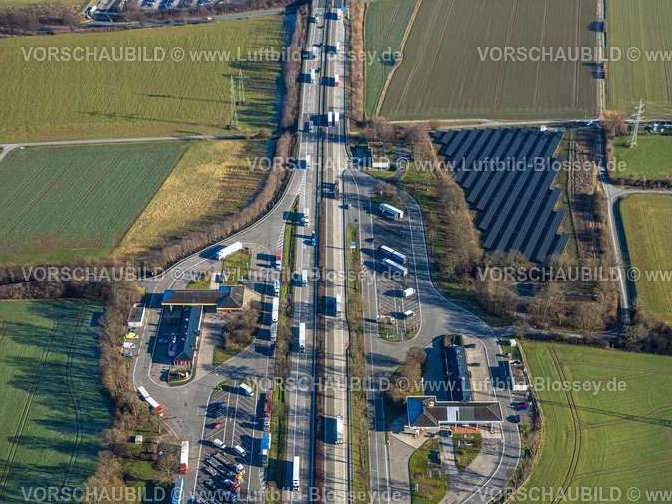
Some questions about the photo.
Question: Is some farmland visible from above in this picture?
Yes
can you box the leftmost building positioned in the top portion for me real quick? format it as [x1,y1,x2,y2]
[368,142,389,170]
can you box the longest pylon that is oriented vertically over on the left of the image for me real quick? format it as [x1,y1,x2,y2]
[227,75,239,130]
